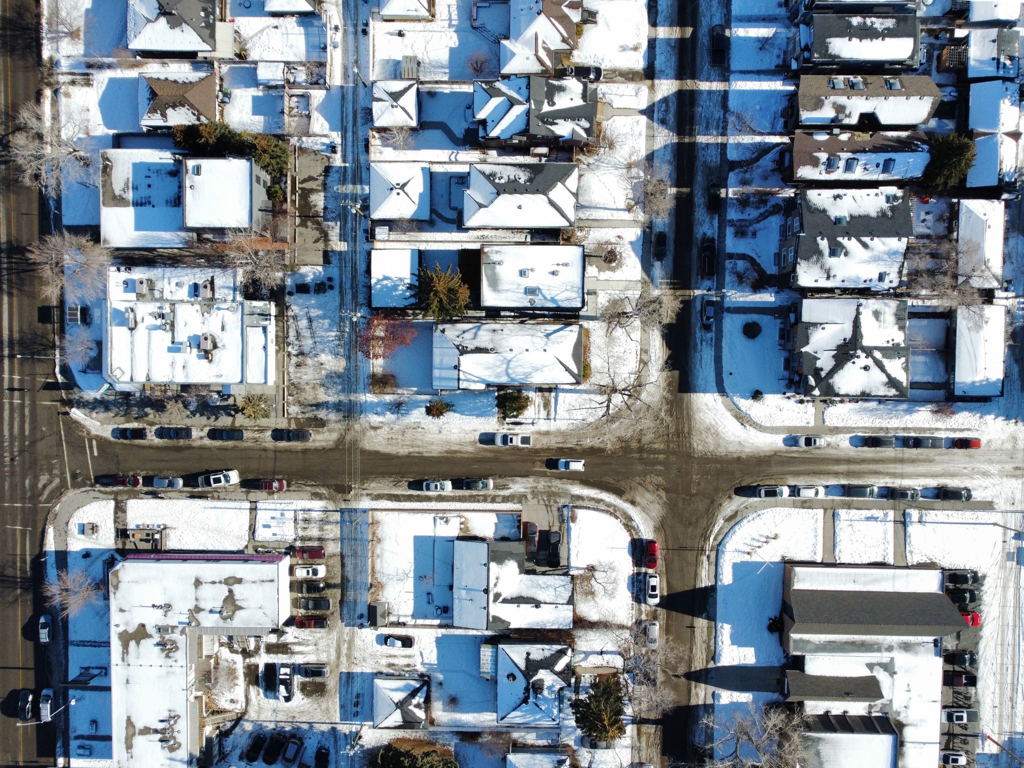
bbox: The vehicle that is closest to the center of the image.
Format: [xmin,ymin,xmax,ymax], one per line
[494,432,533,448]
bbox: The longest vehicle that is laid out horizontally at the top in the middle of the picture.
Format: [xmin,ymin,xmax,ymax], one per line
[565,65,603,83]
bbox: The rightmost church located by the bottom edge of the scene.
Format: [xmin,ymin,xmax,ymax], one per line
[779,561,969,768]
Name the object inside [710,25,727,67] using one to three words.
vehicle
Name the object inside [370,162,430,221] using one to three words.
building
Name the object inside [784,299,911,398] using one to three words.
house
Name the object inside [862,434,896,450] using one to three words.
car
